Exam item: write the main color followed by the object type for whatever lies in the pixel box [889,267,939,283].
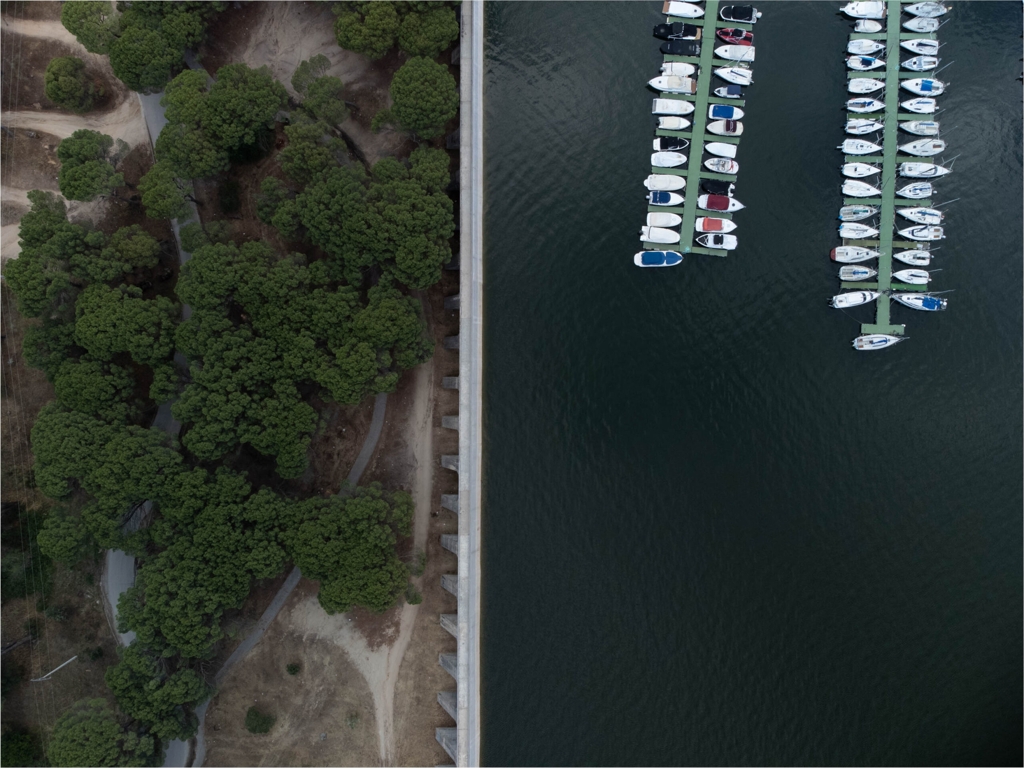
white boat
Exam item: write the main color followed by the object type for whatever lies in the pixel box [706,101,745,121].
blue boat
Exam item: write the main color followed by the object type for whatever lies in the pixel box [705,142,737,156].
white boat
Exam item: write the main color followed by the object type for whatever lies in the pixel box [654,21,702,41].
black boat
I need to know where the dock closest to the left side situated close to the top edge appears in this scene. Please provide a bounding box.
[643,0,753,257]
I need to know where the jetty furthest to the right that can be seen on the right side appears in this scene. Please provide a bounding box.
[840,0,937,335]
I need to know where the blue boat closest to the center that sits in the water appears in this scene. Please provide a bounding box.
[634,250,684,266]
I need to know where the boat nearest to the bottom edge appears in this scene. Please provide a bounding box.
[852,334,913,349]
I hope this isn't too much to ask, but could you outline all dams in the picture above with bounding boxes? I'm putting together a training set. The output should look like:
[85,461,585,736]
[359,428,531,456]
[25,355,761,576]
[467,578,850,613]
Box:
[434,0,484,768]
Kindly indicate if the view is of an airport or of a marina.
marina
